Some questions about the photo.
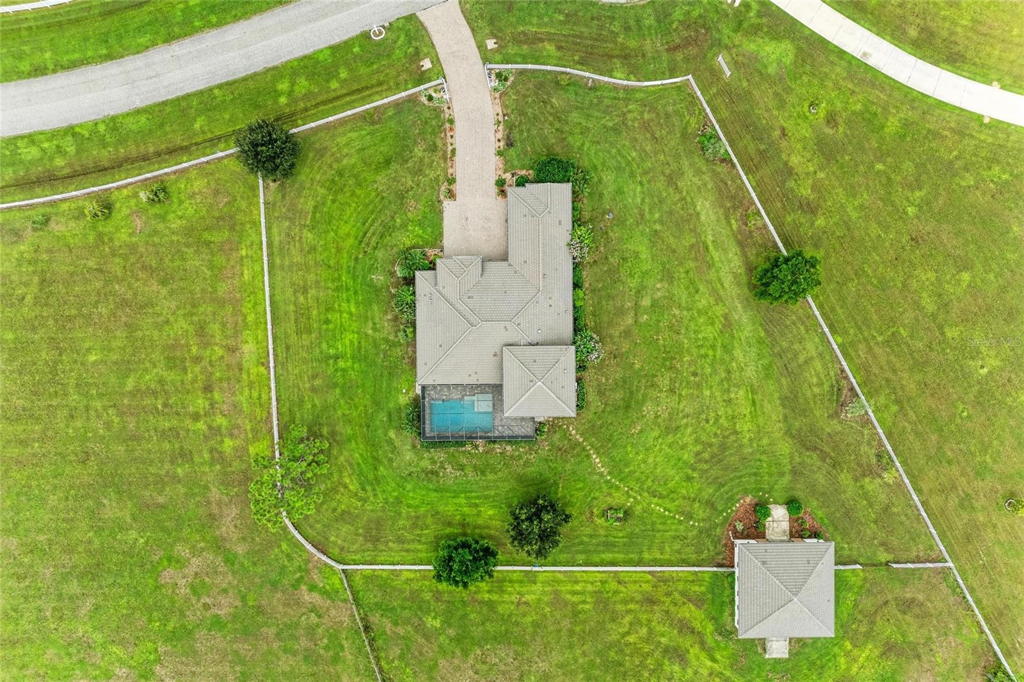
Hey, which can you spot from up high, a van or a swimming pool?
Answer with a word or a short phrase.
swimming pool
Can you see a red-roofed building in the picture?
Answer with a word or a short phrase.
No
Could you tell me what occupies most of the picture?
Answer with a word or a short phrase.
grass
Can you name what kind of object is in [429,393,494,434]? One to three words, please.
swimming pool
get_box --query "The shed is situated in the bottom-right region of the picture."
[733,538,837,640]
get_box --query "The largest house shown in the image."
[415,180,576,418]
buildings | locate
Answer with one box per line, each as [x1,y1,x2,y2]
[415,180,576,418]
[733,538,837,640]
